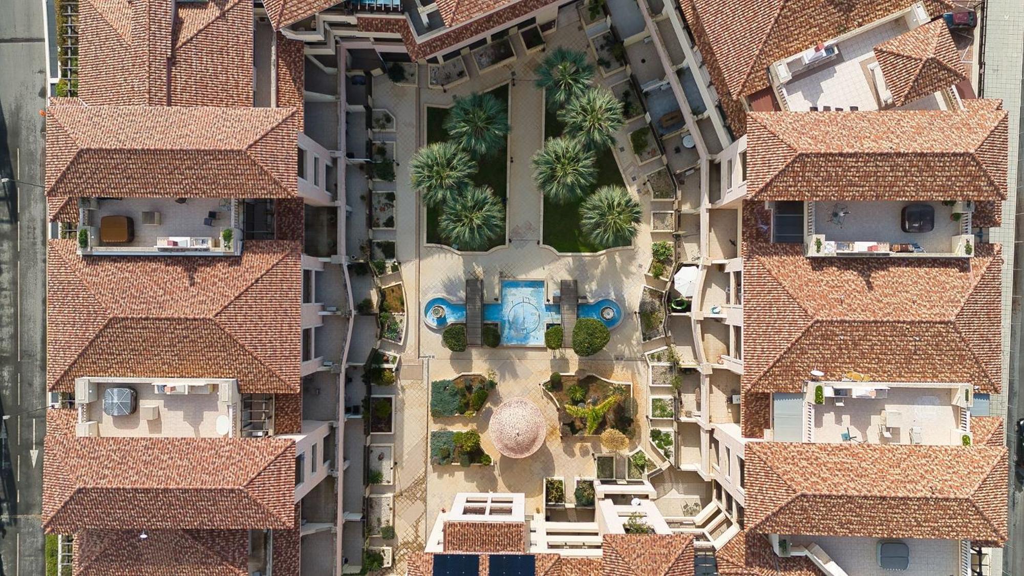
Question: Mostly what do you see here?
buildings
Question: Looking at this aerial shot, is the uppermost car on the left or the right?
right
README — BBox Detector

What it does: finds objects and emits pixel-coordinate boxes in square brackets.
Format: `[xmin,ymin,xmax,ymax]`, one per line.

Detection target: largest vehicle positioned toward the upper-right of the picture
[937,7,975,33]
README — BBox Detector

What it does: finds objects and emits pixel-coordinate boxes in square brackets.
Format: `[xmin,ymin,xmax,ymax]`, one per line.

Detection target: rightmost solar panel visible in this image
[489,554,535,576]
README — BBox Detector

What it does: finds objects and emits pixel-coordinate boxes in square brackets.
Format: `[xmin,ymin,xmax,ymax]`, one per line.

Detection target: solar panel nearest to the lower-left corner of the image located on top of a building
[433,554,479,576]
